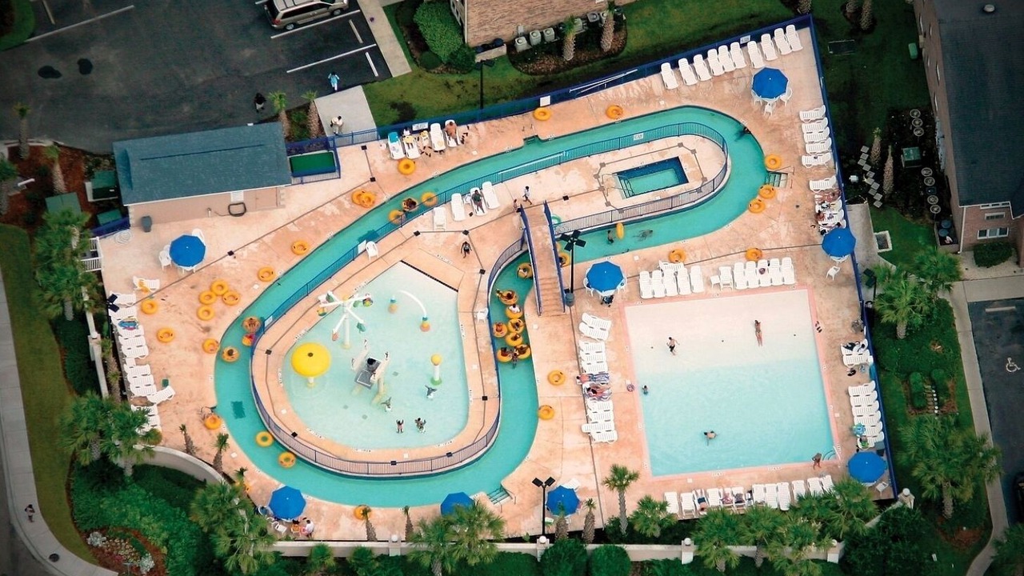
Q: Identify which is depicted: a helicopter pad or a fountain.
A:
fountain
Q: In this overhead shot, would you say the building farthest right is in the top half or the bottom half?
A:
top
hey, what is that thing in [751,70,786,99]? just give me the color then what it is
blue umbrella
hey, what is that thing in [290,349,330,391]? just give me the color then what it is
yellow fountain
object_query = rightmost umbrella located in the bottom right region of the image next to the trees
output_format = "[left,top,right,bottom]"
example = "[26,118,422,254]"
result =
[848,453,885,491]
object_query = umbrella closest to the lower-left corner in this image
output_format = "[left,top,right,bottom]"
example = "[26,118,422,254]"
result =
[269,487,307,519]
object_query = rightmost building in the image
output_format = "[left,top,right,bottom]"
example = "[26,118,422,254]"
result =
[916,0,1024,263]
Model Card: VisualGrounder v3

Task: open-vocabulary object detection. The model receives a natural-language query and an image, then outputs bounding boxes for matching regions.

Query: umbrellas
[819,228,858,260]
[751,70,786,99]
[585,262,622,292]
[545,485,583,519]
[438,489,477,520]
[848,453,885,491]
[269,487,307,519]
[170,236,208,266]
